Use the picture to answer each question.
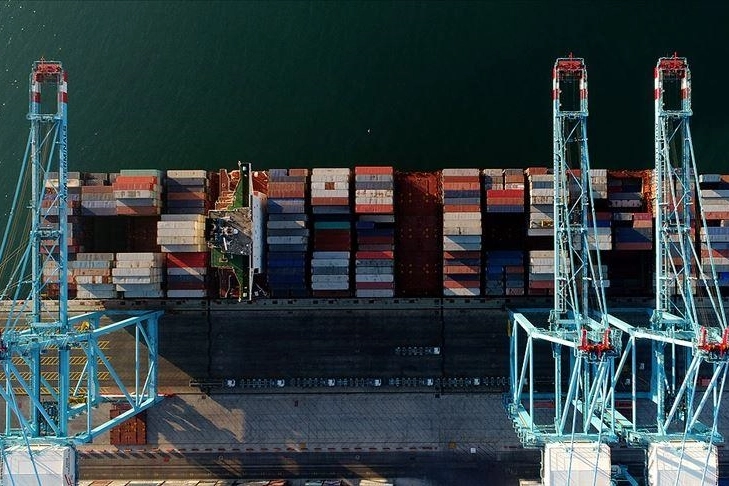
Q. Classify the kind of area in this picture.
port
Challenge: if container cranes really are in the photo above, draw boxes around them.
[0,55,177,486]
[497,52,620,486]
[579,51,729,486]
